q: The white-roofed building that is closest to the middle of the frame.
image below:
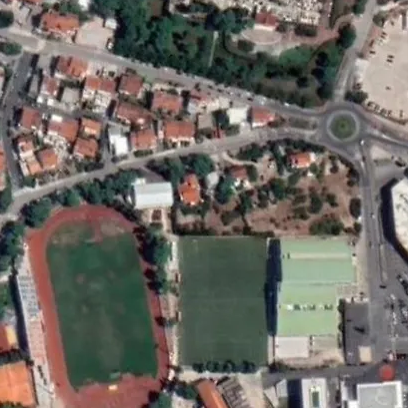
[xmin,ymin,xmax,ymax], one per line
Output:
[135,178,173,210]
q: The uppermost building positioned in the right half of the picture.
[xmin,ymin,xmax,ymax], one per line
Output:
[254,12,280,31]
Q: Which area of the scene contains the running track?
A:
bottom left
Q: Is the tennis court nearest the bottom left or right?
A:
left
